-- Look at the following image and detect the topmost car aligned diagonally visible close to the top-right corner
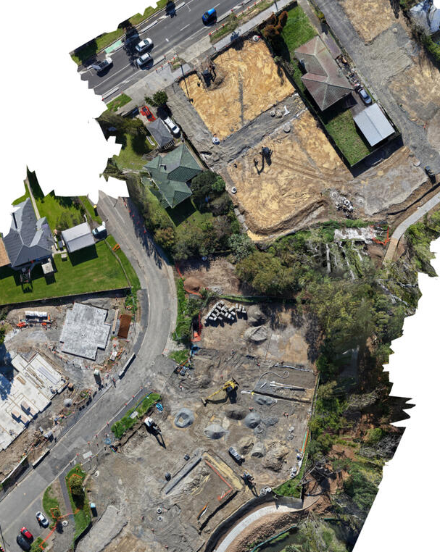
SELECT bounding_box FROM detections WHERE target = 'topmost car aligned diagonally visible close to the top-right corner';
[358,88,371,105]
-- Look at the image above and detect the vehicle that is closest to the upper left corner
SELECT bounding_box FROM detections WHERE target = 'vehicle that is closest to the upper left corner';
[94,58,111,73]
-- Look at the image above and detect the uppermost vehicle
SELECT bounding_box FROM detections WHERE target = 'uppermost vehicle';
[202,10,217,24]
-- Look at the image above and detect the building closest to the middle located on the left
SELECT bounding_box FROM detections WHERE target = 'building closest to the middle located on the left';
[143,142,200,210]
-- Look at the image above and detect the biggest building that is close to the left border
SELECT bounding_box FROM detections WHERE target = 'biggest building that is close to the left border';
[1,199,56,271]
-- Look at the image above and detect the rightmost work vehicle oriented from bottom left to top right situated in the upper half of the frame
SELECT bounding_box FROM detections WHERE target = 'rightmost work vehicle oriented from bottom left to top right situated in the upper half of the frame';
[254,142,272,170]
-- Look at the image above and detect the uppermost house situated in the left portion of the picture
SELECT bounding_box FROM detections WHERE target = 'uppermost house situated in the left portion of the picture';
[146,118,174,149]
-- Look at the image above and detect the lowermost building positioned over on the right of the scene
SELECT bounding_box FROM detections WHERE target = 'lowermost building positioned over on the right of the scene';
[354,104,395,147]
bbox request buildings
[62,223,95,252]
[411,0,440,39]
[1,199,56,271]
[354,104,395,147]
[143,142,200,210]
[293,33,353,111]
[146,118,174,149]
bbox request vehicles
[203,378,242,401]
[94,58,111,73]
[20,526,33,540]
[142,415,165,436]
[201,62,217,80]
[17,534,31,551]
[227,446,245,463]
[140,105,154,122]
[137,54,151,66]
[90,226,109,237]
[202,10,217,24]
[254,142,272,170]
[165,117,179,134]
[421,165,436,178]
[136,39,152,52]
[358,88,371,105]
[242,469,256,488]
